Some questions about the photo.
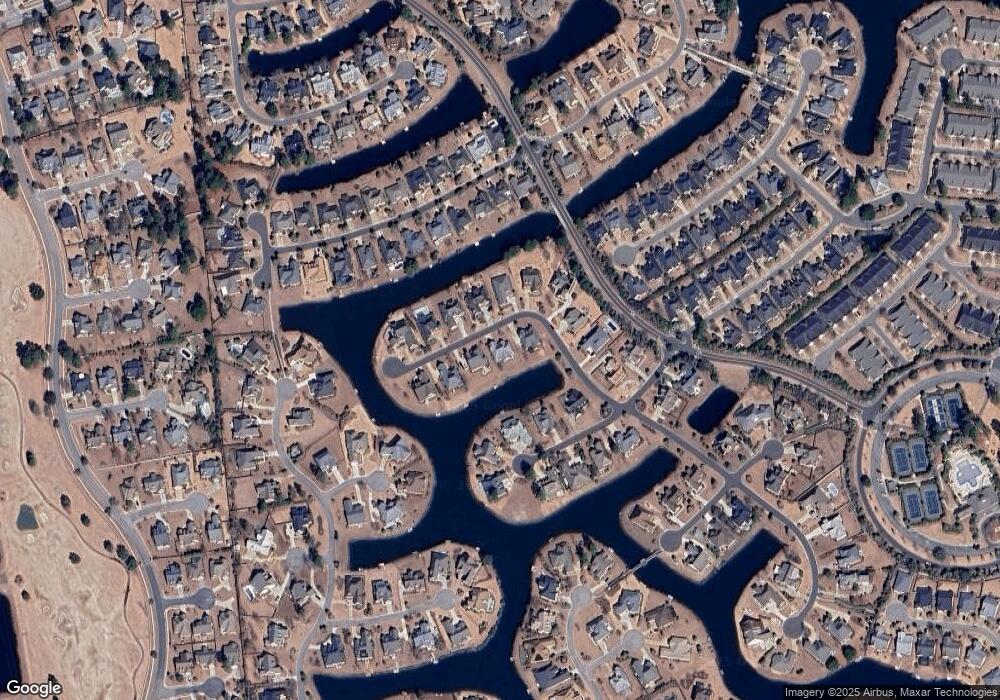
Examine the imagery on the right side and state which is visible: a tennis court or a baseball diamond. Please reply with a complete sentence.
Looking on the right side, you will find a tennis court.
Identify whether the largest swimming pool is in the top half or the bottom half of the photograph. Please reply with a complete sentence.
You can find the largest swimming pool in the bottom half.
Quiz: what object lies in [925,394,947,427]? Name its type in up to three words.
tennis court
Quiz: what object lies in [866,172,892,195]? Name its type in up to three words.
building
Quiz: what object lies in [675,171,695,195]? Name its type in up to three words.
house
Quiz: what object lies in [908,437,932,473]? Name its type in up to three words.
tennis court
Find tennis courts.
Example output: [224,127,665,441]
[900,484,926,524]
[925,394,947,427]
[908,437,932,473]
[891,440,915,476]
[920,480,945,519]
[942,390,965,426]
